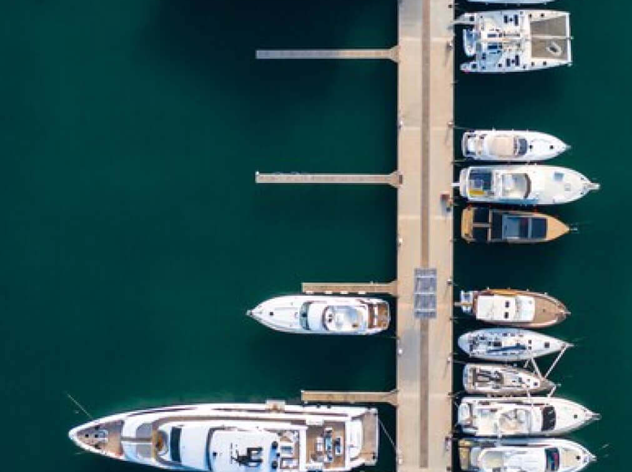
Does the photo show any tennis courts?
No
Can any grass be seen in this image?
No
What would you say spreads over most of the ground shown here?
water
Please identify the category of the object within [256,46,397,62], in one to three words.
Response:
pier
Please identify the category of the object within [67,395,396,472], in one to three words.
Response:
boat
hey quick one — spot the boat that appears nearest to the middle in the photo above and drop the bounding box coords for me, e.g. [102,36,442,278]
[244,293,397,336]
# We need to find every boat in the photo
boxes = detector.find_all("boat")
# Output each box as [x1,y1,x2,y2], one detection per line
[453,365,561,406]
[464,26,475,56]
[452,437,598,472]
[453,394,601,439]
[457,129,571,162]
[451,8,573,73]
[453,207,577,245]
[453,288,571,330]
[67,395,396,472]
[450,162,601,206]
[244,293,397,336]
[455,329,574,370]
